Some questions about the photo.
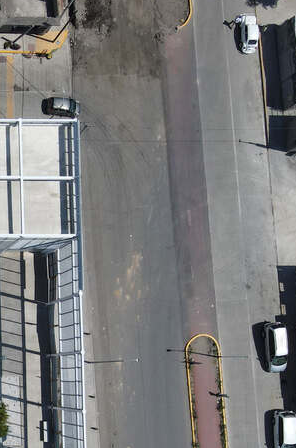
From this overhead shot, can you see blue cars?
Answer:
No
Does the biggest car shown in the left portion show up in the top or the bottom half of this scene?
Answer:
top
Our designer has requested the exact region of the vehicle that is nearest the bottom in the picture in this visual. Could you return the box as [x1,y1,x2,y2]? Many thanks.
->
[266,411,296,448]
